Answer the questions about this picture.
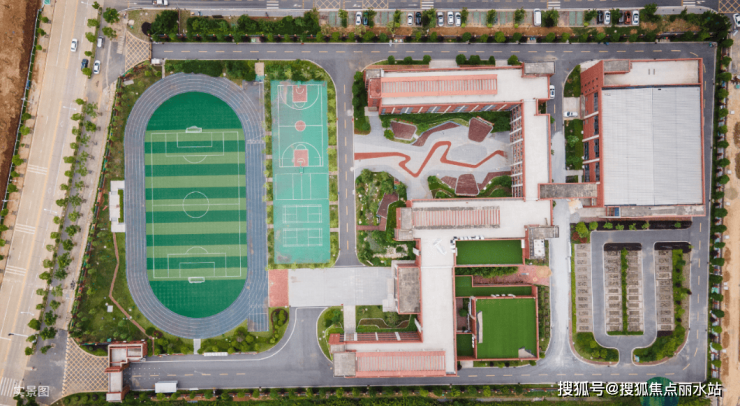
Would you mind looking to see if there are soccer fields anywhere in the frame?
Yes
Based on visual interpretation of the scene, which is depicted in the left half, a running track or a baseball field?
running track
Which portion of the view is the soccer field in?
left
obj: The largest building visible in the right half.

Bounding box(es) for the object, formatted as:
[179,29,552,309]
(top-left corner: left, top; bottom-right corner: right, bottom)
[330,61,559,379]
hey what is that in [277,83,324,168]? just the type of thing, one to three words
basketball court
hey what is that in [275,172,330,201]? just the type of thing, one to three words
sports court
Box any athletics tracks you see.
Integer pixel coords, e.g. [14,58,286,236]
[124,72,270,338]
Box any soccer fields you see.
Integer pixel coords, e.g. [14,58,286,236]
[145,93,248,317]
